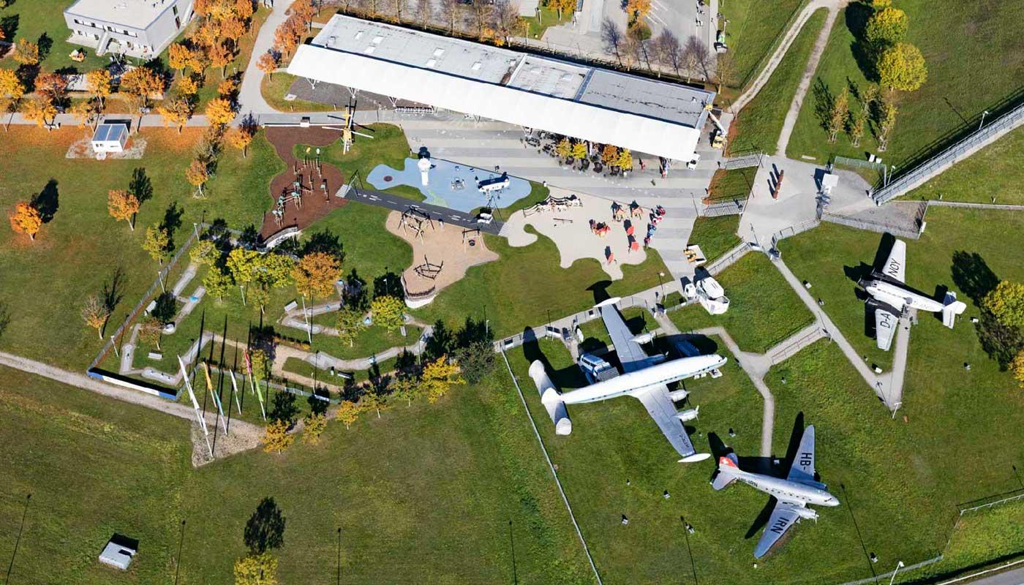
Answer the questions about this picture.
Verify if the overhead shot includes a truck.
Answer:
Yes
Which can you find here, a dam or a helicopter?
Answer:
helicopter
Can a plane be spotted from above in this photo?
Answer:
Yes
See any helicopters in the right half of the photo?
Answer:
No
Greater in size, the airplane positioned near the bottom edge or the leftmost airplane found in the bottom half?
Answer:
the leftmost airplane found in the bottom half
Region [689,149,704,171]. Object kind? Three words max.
vehicle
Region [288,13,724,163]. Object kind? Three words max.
building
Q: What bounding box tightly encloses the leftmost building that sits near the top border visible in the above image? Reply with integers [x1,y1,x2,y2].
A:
[52,0,196,70]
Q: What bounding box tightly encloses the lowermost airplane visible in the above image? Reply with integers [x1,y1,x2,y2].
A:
[720,427,839,561]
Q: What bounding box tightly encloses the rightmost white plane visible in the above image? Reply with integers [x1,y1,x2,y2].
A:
[855,239,961,350]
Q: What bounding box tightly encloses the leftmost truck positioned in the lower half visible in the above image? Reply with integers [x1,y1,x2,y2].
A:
[575,350,621,382]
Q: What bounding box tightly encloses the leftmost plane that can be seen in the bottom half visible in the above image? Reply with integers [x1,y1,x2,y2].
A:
[534,296,726,463]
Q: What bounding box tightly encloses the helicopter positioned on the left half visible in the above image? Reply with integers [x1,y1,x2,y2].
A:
[318,116,371,166]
